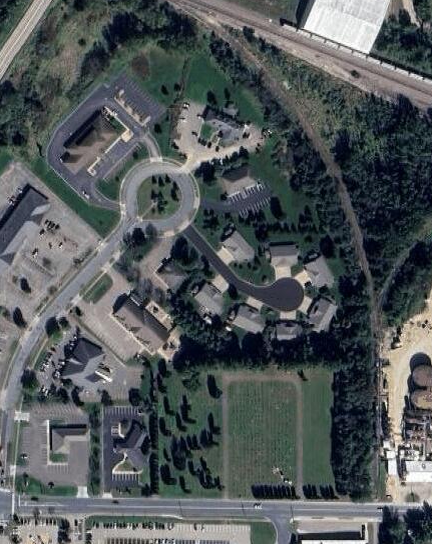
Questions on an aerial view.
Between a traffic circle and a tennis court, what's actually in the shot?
traffic circle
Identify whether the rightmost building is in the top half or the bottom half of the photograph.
bottom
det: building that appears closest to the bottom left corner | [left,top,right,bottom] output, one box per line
[112,417,151,477]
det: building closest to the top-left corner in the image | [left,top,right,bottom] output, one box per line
[58,109,123,173]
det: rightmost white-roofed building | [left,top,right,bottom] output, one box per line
[404,461,432,482]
